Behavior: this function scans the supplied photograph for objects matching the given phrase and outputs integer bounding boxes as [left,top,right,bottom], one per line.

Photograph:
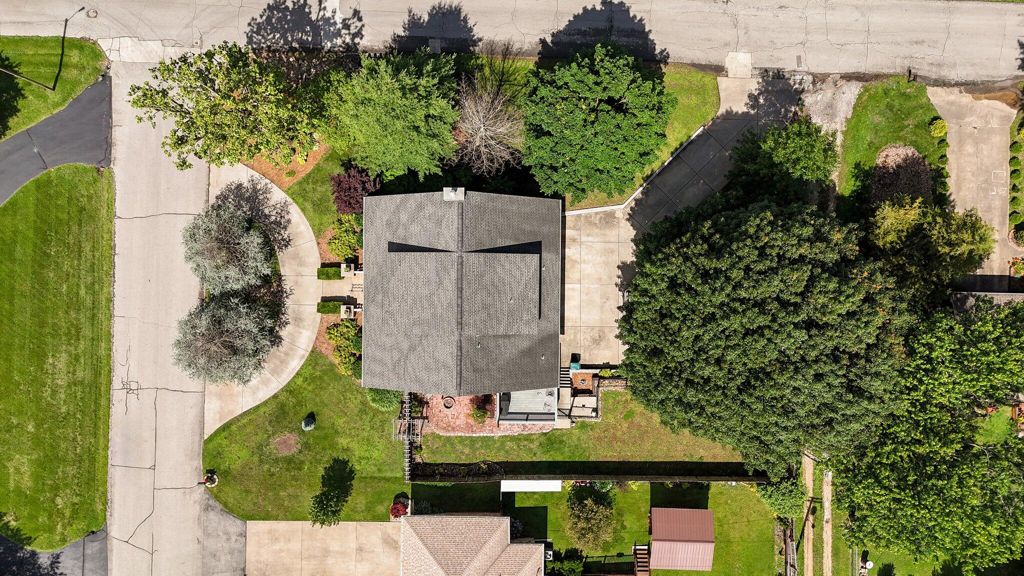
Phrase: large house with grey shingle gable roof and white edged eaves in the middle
[361,188,562,397]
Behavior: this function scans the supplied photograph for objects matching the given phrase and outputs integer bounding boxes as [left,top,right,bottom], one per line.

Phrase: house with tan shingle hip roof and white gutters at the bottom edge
[400,509,545,576]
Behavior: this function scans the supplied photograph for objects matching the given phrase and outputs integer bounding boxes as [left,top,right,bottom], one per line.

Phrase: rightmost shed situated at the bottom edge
[647,504,715,571]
